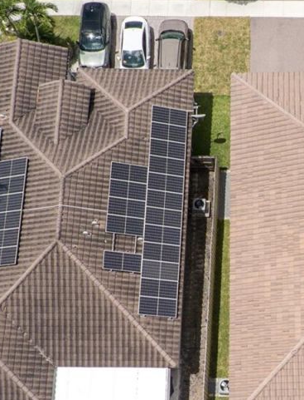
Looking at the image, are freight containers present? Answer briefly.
No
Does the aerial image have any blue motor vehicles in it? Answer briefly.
No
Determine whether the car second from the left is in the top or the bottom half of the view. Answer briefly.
top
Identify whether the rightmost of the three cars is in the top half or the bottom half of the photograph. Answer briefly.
top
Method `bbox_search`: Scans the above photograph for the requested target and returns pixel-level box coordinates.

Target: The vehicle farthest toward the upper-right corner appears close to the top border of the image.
[155,16,192,71]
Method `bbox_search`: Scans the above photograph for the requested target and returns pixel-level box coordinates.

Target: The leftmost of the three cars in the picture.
[76,0,116,70]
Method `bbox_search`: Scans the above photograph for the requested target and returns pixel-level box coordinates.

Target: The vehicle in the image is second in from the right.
[115,8,153,71]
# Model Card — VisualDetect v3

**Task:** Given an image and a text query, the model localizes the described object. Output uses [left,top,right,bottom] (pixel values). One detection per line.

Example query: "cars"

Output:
[115,8,153,71]
[155,16,192,71]
[76,0,116,70]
